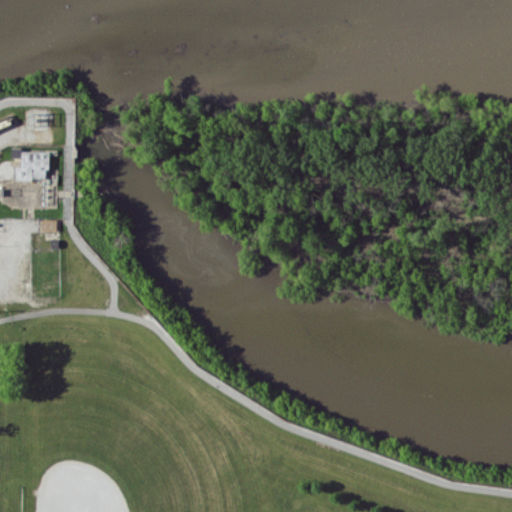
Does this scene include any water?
Yes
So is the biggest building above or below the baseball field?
above it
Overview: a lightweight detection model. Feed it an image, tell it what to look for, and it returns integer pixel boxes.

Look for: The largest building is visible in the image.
[16,152,50,182]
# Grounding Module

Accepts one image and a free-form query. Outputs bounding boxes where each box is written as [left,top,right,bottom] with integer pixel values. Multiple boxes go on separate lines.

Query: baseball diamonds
[33,356,225,512]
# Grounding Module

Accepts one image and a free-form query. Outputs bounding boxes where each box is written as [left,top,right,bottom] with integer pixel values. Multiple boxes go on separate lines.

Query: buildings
[16,152,50,182]
[42,220,58,232]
